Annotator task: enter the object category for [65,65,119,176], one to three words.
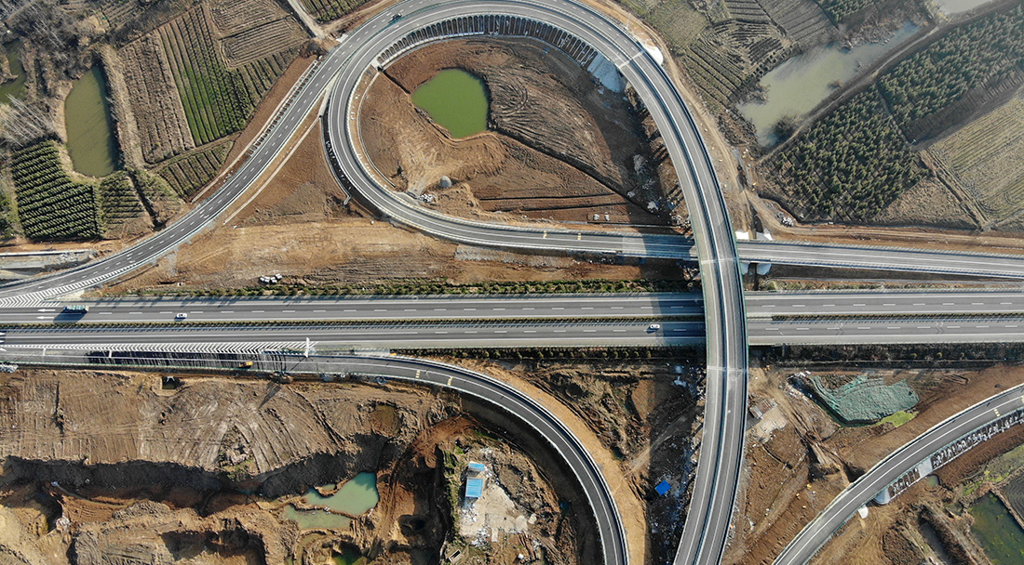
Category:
pond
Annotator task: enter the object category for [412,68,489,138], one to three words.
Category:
pond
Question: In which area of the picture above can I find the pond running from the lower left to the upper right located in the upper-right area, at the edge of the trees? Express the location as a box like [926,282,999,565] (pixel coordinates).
[738,23,920,148]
